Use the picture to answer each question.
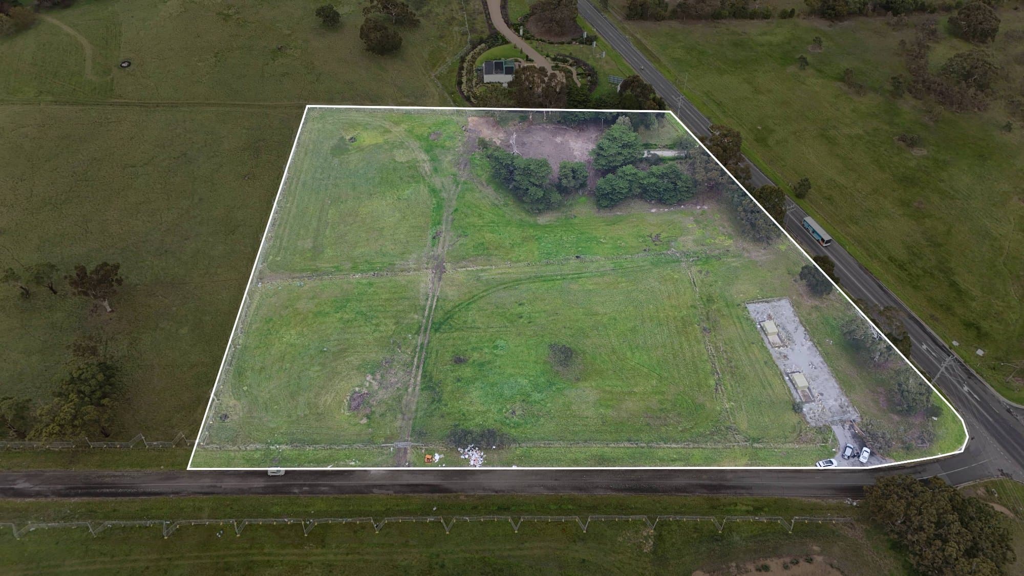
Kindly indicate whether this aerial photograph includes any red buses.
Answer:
No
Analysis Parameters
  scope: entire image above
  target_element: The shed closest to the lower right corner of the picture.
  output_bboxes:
[784,368,816,400]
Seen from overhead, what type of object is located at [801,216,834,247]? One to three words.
bus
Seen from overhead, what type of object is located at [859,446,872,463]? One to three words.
vehicle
